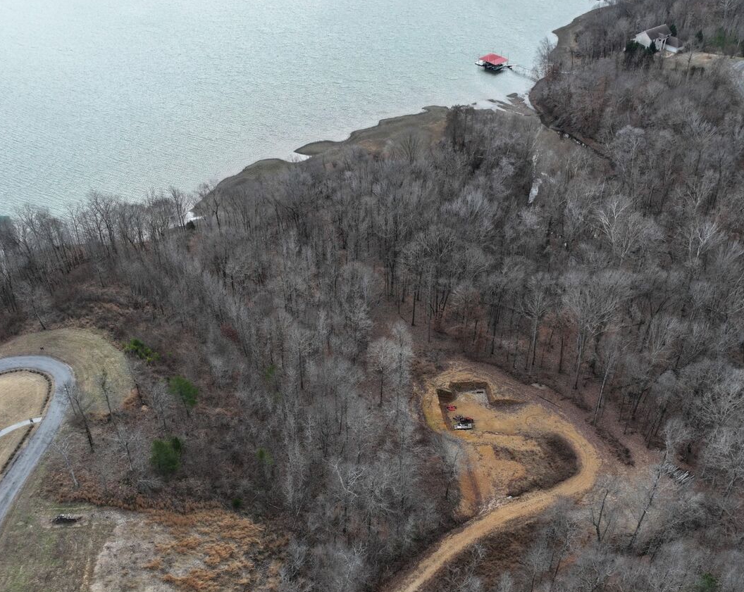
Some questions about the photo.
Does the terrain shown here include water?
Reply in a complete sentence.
Yes, water shows up in the scene.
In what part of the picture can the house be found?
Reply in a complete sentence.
The house appears toward the top right of the photo.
